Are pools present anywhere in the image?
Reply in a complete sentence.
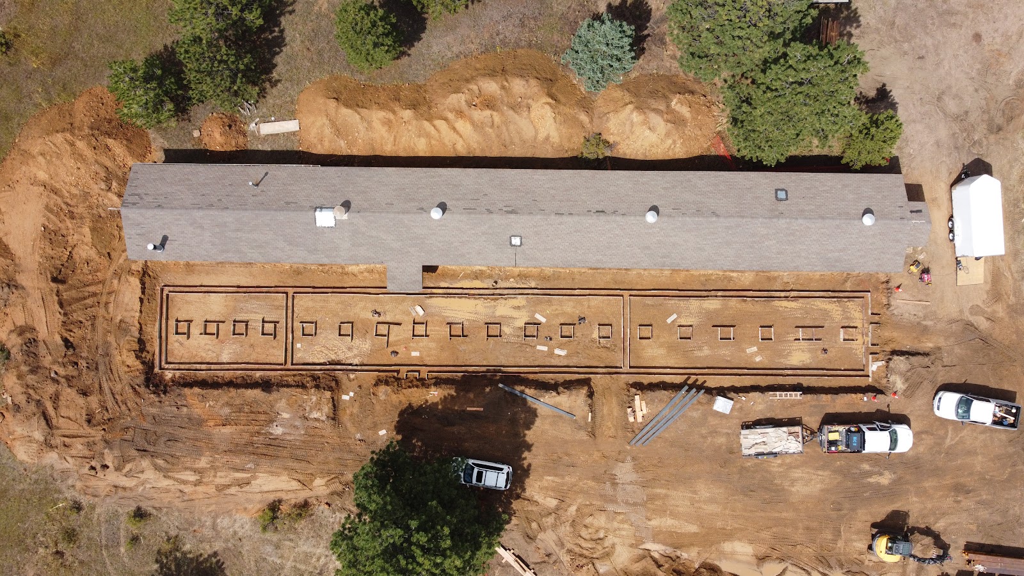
No, there appears to be no pool in this shot.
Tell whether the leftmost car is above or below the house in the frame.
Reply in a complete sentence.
From this view, the leftmost car can be seen below the house.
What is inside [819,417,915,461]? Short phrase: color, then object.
white truck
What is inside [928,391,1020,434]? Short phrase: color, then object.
white truck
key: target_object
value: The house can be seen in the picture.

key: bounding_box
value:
[109,162,934,293]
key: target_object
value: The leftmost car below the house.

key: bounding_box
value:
[448,454,515,492]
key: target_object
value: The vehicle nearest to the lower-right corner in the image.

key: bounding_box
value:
[864,528,953,565]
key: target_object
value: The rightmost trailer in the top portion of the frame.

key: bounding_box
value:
[945,166,1004,285]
